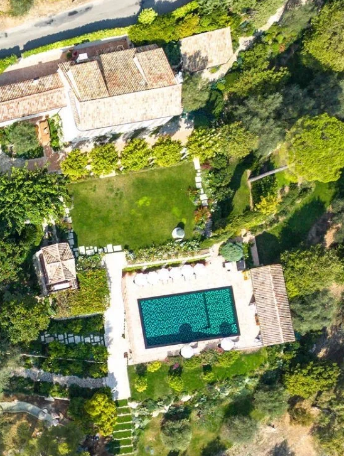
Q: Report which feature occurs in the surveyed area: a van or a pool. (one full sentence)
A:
The one in the frame is a pool.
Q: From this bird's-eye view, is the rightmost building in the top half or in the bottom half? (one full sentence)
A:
The rightmost building is in the bottom half of the image.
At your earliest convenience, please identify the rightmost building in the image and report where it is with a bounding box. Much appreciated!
[243,264,296,345]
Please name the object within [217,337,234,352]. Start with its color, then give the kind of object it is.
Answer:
white umbrella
